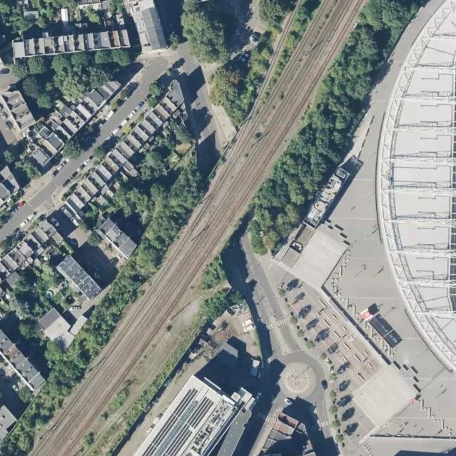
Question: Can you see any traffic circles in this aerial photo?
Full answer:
Yes, this view includes a traffic circle.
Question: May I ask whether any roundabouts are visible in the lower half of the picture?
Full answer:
Yes, there is a roundabout in the lower half of the picture.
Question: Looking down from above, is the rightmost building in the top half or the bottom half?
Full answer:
It is in the bottom half that the rightmost building appears.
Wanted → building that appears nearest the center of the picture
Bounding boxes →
[280,226,314,268]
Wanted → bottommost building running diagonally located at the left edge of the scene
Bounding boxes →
[0,338,43,394]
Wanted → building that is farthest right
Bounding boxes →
[369,316,401,348]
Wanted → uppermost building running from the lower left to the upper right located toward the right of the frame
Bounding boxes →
[303,167,349,225]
